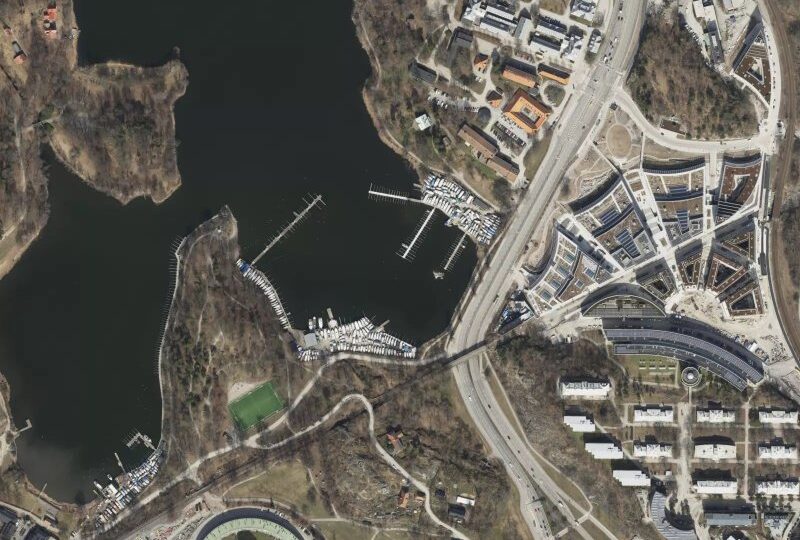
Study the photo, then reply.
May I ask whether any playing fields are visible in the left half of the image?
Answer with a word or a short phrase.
Yes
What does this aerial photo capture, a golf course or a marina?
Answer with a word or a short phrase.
marina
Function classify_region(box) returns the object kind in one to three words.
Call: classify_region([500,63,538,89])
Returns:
house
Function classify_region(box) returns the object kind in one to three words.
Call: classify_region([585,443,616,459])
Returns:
building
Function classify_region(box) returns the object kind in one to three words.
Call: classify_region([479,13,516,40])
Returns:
building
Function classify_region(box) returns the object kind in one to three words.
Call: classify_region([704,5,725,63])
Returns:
shed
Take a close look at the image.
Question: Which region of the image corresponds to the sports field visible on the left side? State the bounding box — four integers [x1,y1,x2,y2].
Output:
[228,381,287,431]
